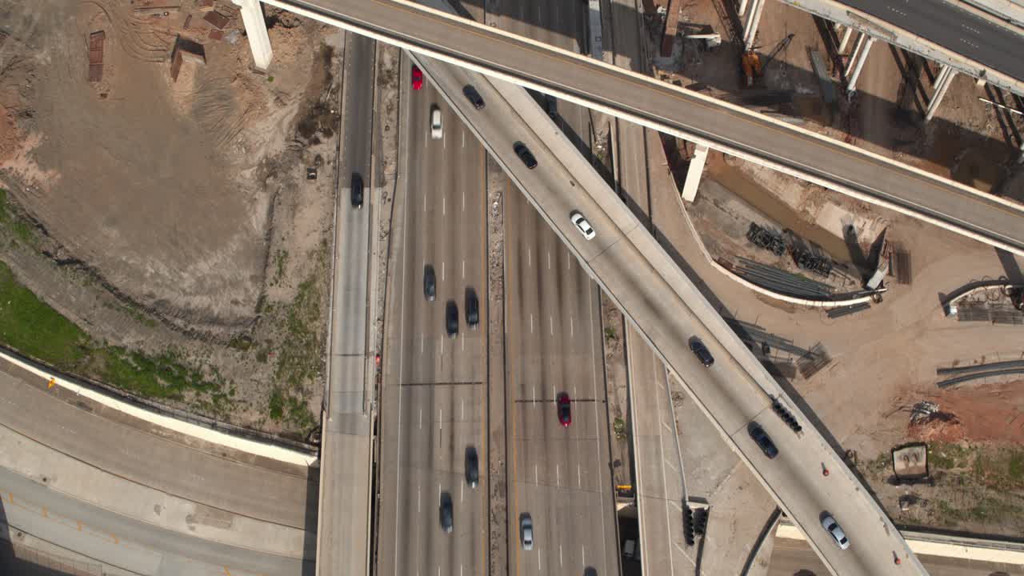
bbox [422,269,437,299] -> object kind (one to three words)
car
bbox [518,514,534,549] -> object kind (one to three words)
car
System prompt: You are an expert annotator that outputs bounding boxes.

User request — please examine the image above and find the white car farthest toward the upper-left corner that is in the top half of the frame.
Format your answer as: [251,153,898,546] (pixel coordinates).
[429,109,443,135]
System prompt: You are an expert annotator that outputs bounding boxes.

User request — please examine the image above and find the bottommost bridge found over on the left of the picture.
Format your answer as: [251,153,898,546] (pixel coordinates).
[314,415,376,576]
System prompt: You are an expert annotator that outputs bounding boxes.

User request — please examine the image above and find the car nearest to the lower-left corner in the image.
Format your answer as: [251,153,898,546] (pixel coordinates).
[438,494,454,529]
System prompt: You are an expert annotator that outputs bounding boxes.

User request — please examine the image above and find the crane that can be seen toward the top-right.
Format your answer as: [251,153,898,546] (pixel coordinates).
[740,38,788,93]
